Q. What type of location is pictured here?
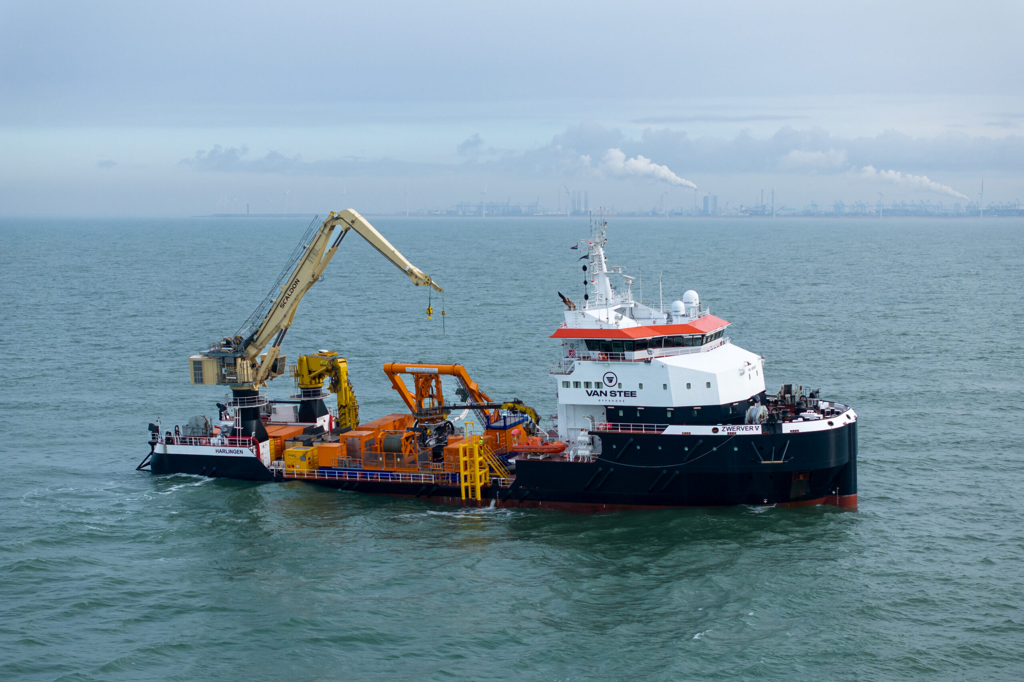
port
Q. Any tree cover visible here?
No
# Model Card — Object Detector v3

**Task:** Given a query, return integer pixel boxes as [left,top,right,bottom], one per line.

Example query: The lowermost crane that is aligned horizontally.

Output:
[443,397,543,440]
